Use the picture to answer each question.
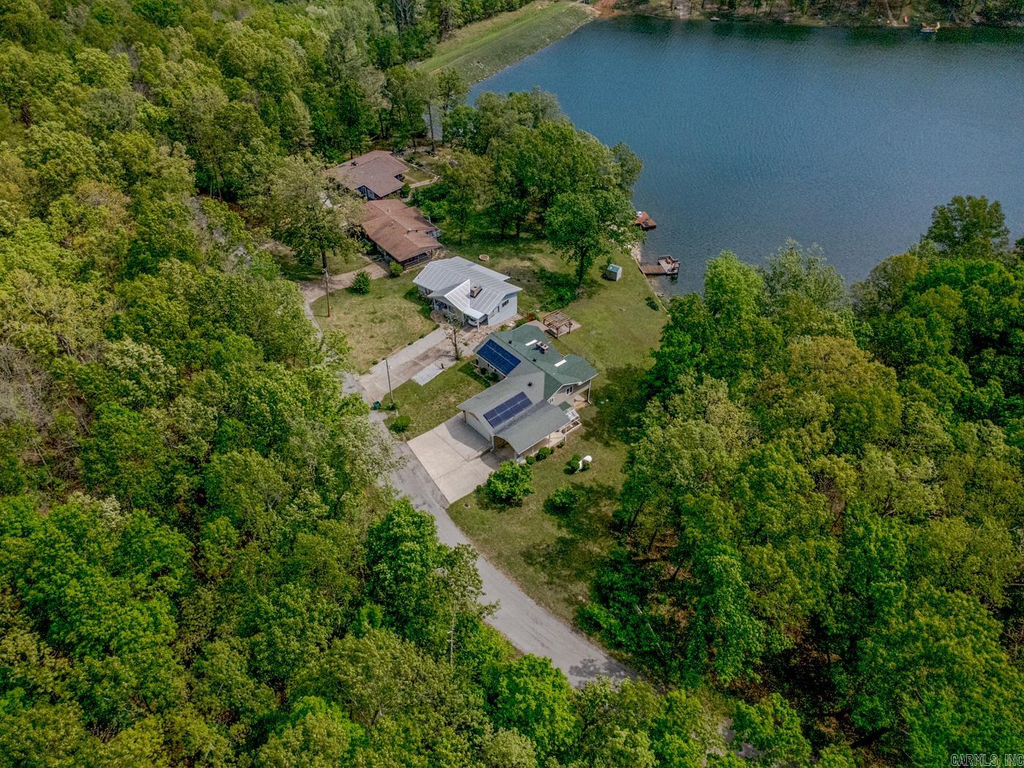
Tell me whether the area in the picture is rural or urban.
rural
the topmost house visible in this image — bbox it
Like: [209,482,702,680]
[318,151,416,202]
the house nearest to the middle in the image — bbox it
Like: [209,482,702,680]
[457,326,599,468]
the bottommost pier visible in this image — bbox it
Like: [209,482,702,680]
[648,254,681,277]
